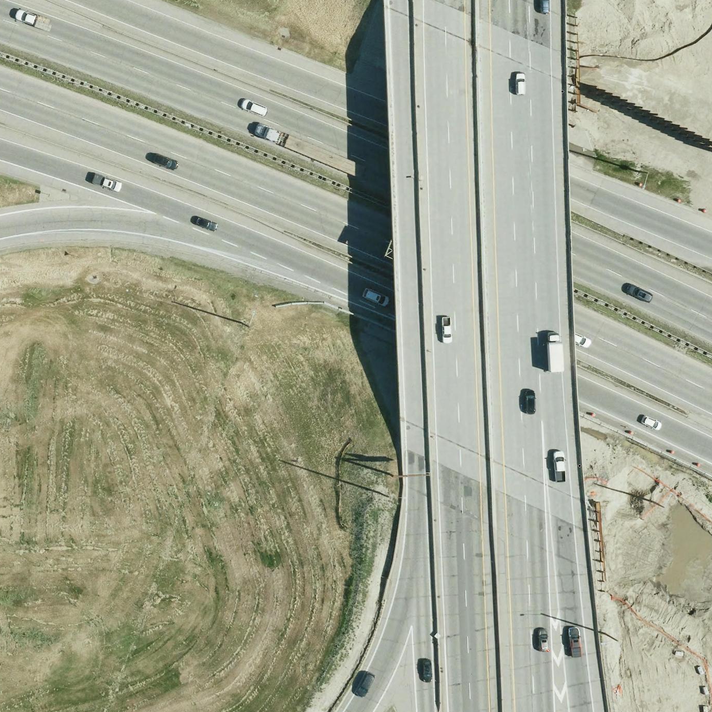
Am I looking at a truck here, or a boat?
truck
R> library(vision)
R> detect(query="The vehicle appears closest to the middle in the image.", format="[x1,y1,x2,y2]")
[362,288,389,306]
